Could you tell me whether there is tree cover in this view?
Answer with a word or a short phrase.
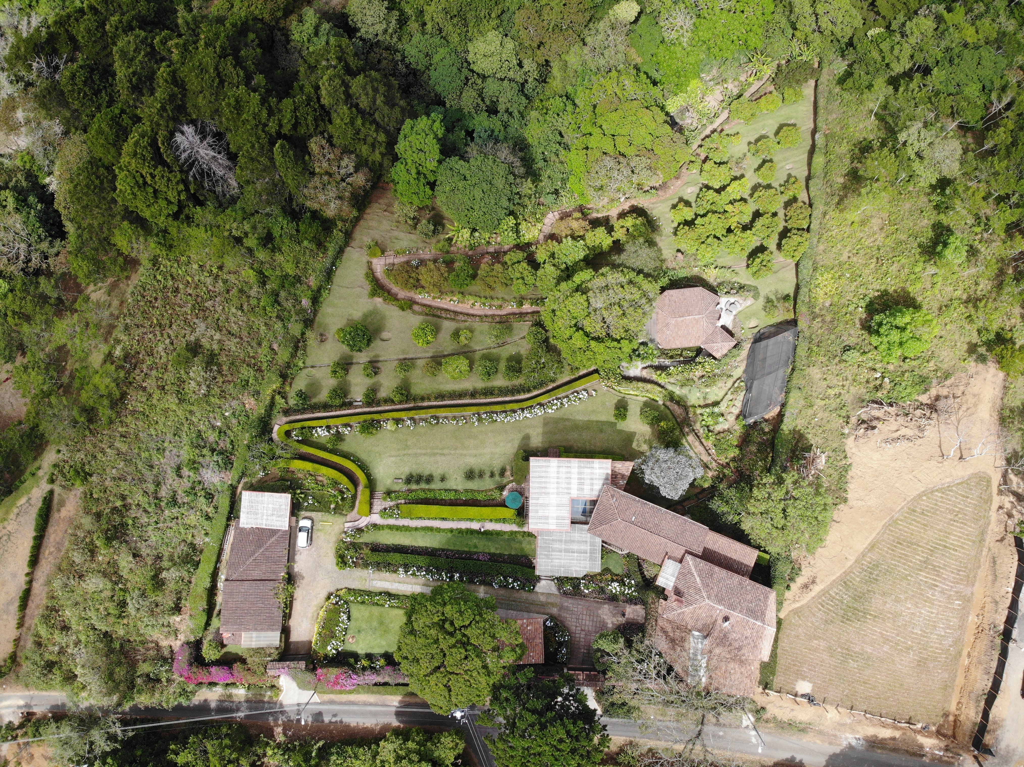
Yes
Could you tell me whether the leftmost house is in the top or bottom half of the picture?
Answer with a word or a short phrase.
bottom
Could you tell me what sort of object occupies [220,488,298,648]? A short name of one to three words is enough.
house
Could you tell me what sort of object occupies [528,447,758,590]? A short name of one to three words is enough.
house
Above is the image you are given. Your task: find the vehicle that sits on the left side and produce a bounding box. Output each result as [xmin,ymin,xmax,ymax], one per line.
[297,518,313,549]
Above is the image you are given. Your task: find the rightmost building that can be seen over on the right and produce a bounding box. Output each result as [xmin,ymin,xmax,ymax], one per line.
[742,320,799,421]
